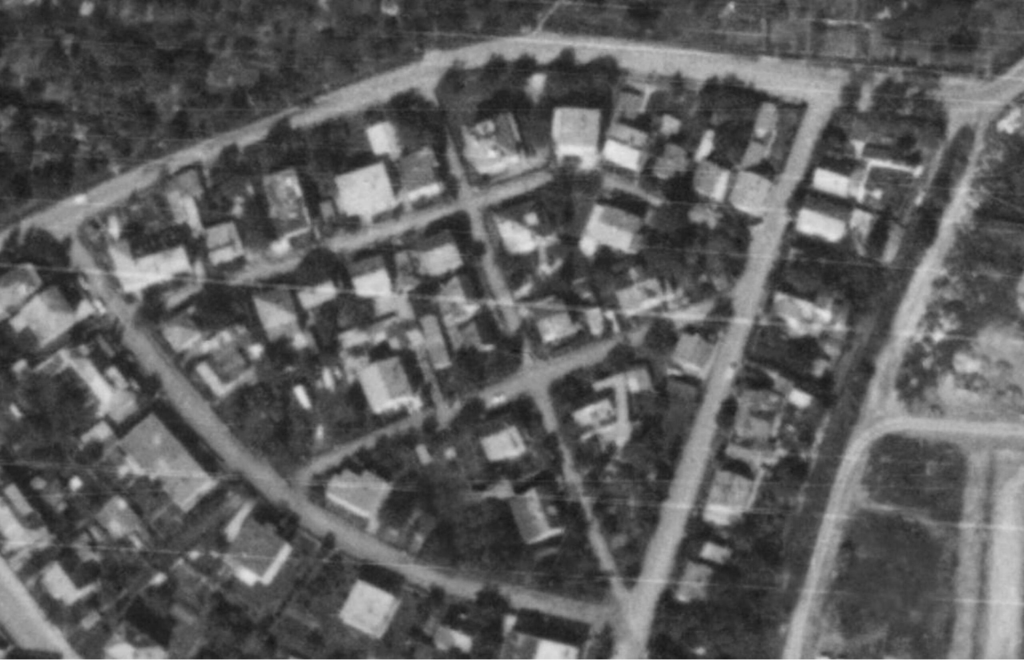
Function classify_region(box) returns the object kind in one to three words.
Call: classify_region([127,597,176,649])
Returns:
shed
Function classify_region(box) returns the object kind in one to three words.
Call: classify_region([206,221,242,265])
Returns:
house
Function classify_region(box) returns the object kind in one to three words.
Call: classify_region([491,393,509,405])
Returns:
vehicle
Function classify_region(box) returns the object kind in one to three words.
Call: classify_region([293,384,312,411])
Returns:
vehicle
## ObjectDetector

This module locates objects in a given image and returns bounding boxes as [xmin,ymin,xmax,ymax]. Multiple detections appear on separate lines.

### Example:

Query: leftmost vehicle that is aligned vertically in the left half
[108,216,120,239]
